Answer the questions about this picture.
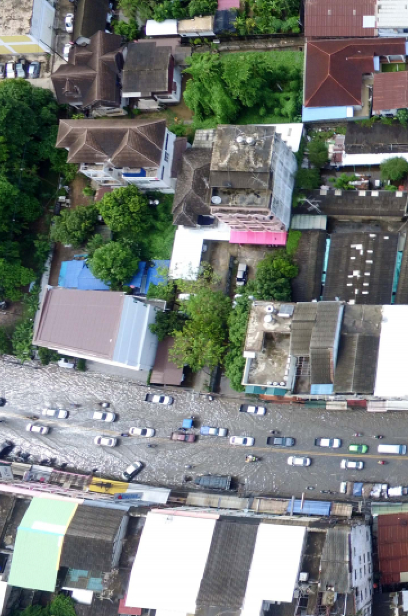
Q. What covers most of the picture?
buildings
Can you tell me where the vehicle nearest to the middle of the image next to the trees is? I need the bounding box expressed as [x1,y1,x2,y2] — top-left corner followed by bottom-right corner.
[236,262,249,286]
